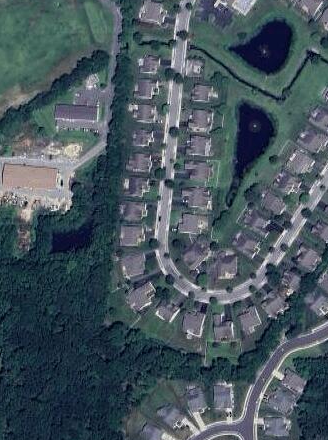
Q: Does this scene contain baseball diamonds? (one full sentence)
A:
No, the scene contains no baseball diamond.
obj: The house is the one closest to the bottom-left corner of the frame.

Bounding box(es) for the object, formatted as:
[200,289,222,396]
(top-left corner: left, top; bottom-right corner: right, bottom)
[136,422,168,440]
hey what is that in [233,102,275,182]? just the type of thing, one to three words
pond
